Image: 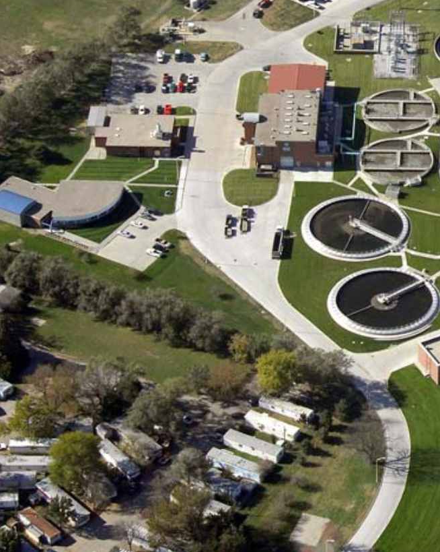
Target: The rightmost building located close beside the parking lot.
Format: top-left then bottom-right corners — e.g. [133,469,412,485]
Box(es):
[254,64,334,178]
